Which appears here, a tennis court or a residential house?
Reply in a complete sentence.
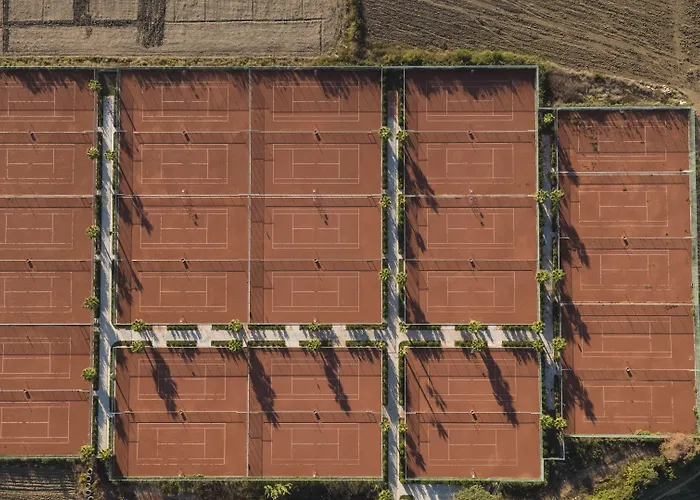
There is a tennis court in the scene.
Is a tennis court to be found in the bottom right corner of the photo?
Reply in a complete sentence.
Yes, I can see a tennis court in the bottom right corner of the photo.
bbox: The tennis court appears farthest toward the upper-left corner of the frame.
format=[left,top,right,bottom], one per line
[0,71,96,131]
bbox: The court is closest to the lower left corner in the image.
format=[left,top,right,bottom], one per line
[0,391,93,455]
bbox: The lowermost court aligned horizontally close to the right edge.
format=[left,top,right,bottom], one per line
[563,370,697,433]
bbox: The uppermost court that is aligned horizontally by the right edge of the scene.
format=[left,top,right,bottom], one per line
[558,111,690,172]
